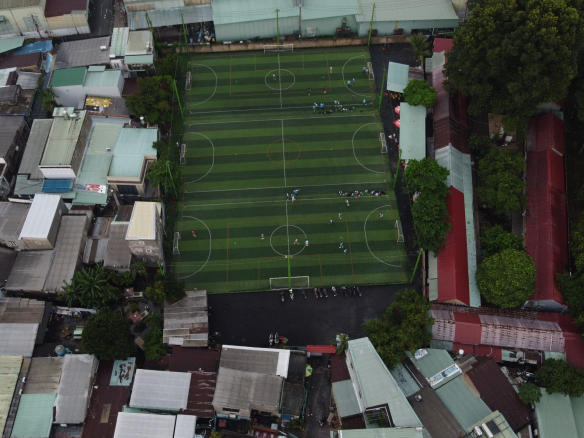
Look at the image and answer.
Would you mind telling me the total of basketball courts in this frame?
0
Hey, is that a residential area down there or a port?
residential area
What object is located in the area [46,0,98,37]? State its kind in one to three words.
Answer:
building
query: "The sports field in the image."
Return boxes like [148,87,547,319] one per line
[171,44,412,294]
